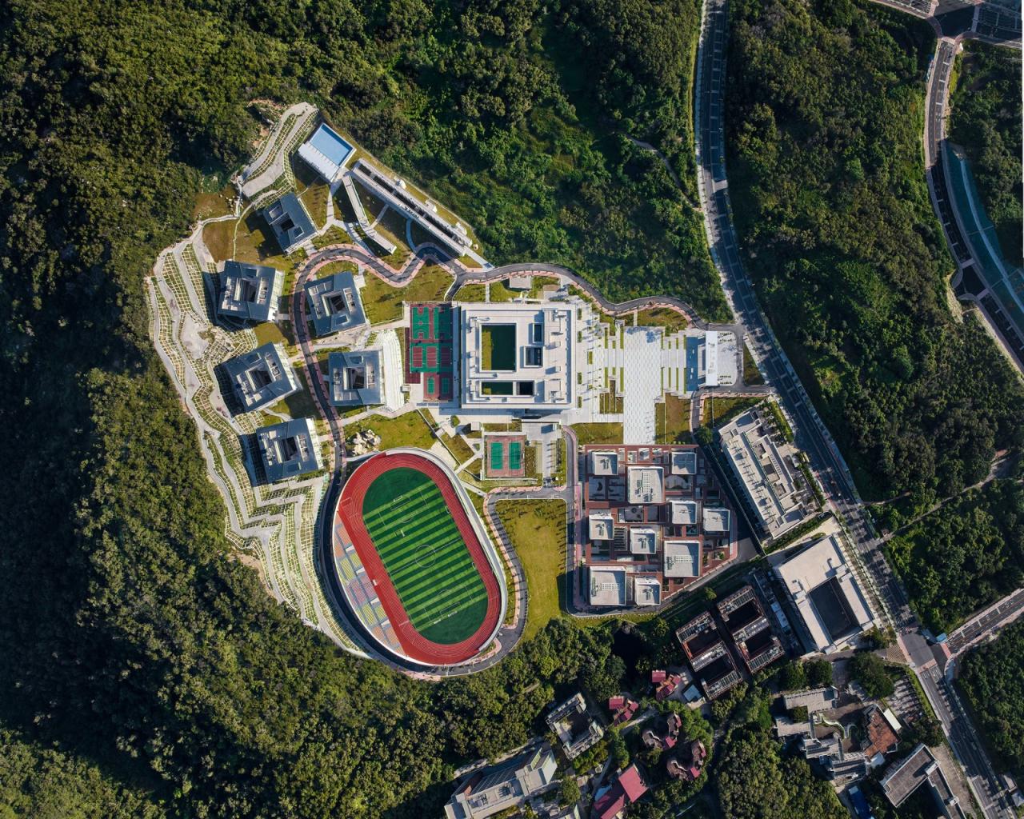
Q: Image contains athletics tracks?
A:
Yes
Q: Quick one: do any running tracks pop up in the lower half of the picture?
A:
Yes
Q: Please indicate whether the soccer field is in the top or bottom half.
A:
bottom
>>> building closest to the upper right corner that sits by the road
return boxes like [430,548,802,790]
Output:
[704,331,718,386]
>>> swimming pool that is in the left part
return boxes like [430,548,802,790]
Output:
[312,126,353,166]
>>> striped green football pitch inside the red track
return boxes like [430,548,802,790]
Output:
[363,467,488,644]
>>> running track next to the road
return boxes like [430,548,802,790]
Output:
[338,453,501,666]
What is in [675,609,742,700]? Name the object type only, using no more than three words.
building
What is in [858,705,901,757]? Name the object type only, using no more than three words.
house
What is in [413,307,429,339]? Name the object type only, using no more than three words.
basketball court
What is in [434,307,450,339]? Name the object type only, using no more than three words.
basketball court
